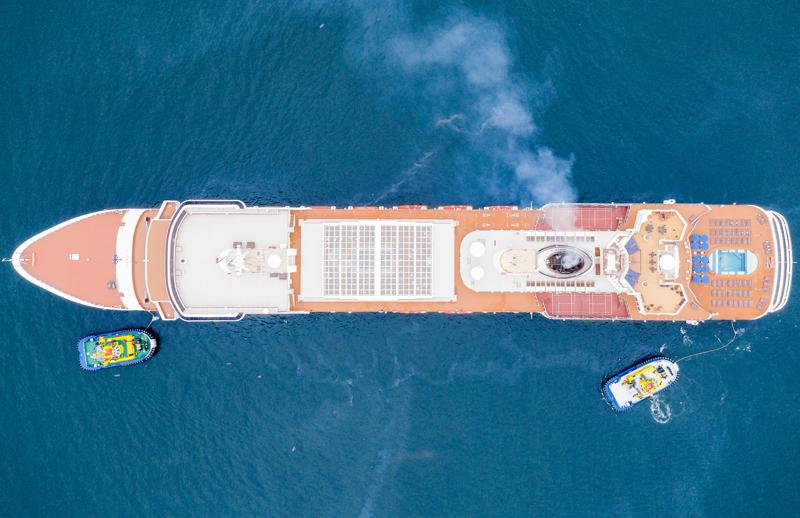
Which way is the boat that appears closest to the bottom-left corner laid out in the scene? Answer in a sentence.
The boat that appears closest to the bottom-left corner has been laid out from left to right relative to the frame.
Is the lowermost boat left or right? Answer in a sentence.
The lowermost boat is on the right side of the image.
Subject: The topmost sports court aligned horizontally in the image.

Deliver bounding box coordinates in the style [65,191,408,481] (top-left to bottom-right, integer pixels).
[538,204,636,230]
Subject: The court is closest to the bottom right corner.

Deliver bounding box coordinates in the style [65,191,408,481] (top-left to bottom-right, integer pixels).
[538,294,634,320]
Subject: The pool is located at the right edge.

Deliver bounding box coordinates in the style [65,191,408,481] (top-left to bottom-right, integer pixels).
[706,248,760,277]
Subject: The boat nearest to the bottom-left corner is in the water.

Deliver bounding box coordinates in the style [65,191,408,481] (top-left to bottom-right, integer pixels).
[76,330,159,373]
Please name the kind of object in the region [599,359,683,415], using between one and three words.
boat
